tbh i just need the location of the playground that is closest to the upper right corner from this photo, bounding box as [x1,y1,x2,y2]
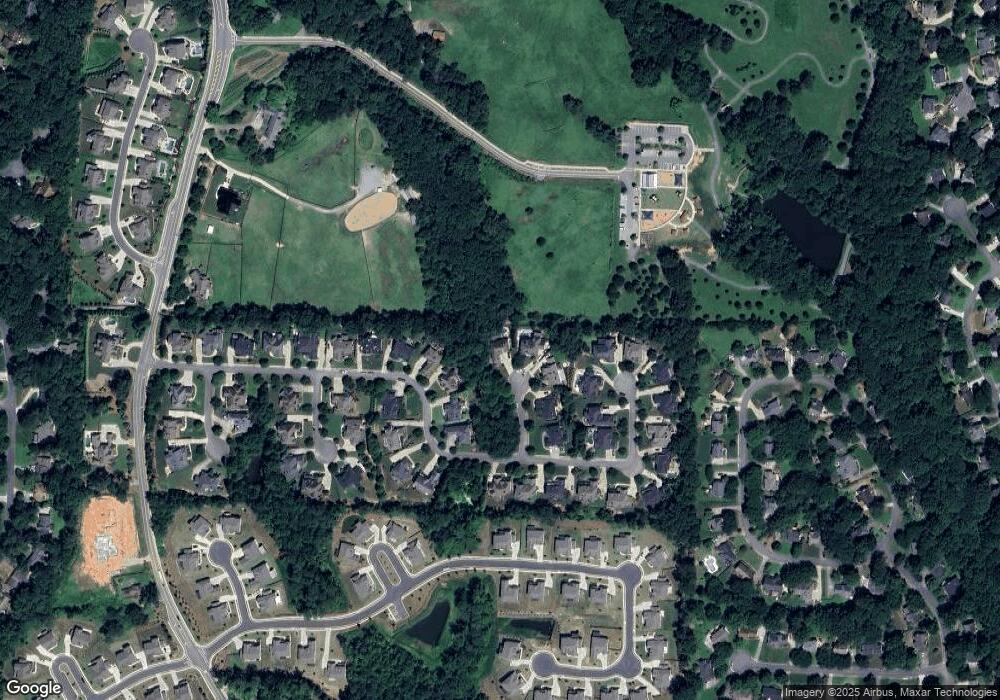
[657,172,686,186]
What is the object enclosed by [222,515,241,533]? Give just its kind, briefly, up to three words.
house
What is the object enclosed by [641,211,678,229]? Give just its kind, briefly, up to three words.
playground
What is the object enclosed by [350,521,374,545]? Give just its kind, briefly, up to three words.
house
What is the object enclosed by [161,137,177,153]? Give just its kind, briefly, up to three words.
swimming pool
